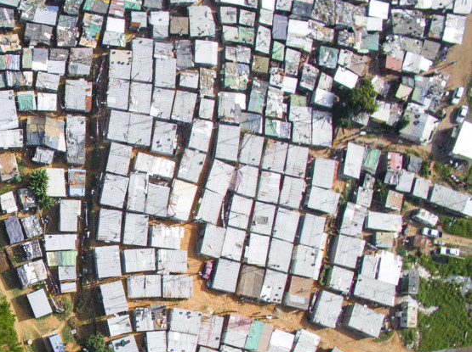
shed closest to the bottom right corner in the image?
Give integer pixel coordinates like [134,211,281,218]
[400,304,418,327]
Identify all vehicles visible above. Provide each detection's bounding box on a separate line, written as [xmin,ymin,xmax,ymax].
[202,277,212,290]
[447,84,465,107]
[419,227,442,238]
[411,209,442,227]
[437,247,460,256]
[453,103,469,125]
[201,261,213,280]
